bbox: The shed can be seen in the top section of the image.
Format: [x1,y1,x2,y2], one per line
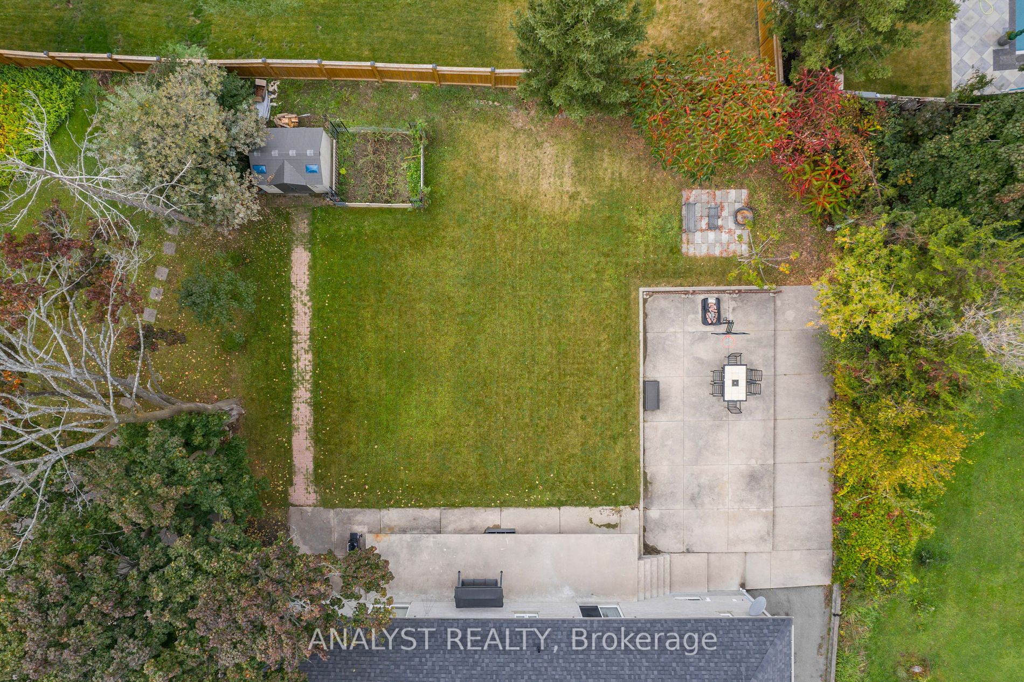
[248,124,331,194]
